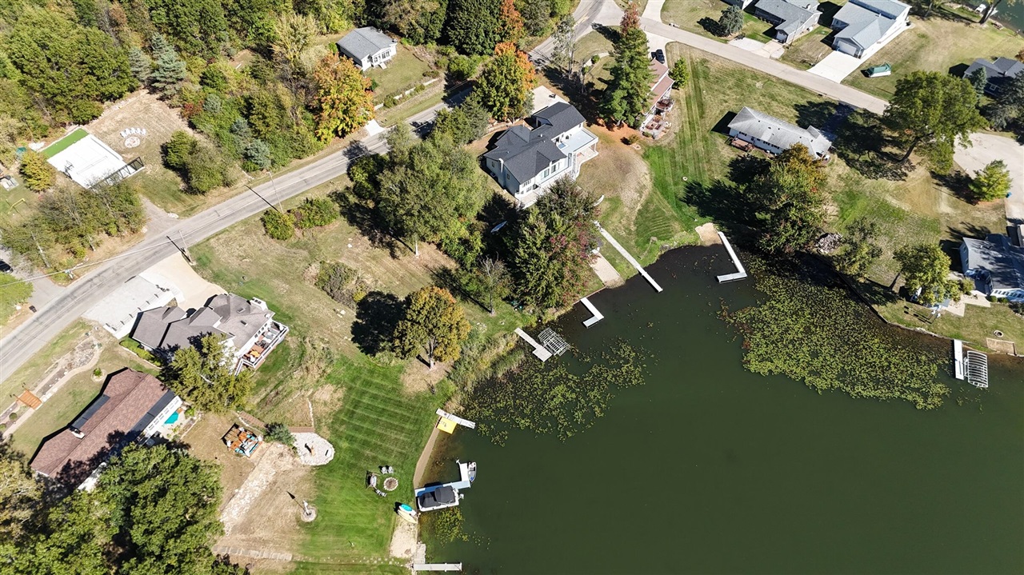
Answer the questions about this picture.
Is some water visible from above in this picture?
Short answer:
Yes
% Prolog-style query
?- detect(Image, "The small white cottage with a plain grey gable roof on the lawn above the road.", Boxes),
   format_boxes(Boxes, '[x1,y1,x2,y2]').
[336,22,396,72]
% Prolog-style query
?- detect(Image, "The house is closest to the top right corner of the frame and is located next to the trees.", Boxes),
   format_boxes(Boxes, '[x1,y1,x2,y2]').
[964,54,1024,101]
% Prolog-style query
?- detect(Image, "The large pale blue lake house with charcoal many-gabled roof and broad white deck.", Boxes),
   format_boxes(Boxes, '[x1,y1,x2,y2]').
[484,102,599,205]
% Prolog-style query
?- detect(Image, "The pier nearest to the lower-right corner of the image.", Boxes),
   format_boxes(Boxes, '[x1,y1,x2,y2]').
[951,339,964,382]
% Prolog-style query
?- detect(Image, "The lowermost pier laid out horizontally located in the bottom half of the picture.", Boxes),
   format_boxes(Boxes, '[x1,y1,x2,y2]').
[413,562,462,574]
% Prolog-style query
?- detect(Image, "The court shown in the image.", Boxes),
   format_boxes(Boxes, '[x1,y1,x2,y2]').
[50,133,145,190]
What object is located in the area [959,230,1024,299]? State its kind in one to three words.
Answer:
house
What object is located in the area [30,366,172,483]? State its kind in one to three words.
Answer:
house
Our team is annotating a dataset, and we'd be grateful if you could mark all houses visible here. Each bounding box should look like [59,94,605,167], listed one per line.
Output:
[833,0,915,57]
[639,60,675,133]
[728,105,830,163]
[718,0,751,16]
[959,230,1024,299]
[336,22,396,72]
[133,293,291,376]
[755,0,819,43]
[484,102,599,205]
[30,366,172,483]
[964,54,1024,101]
